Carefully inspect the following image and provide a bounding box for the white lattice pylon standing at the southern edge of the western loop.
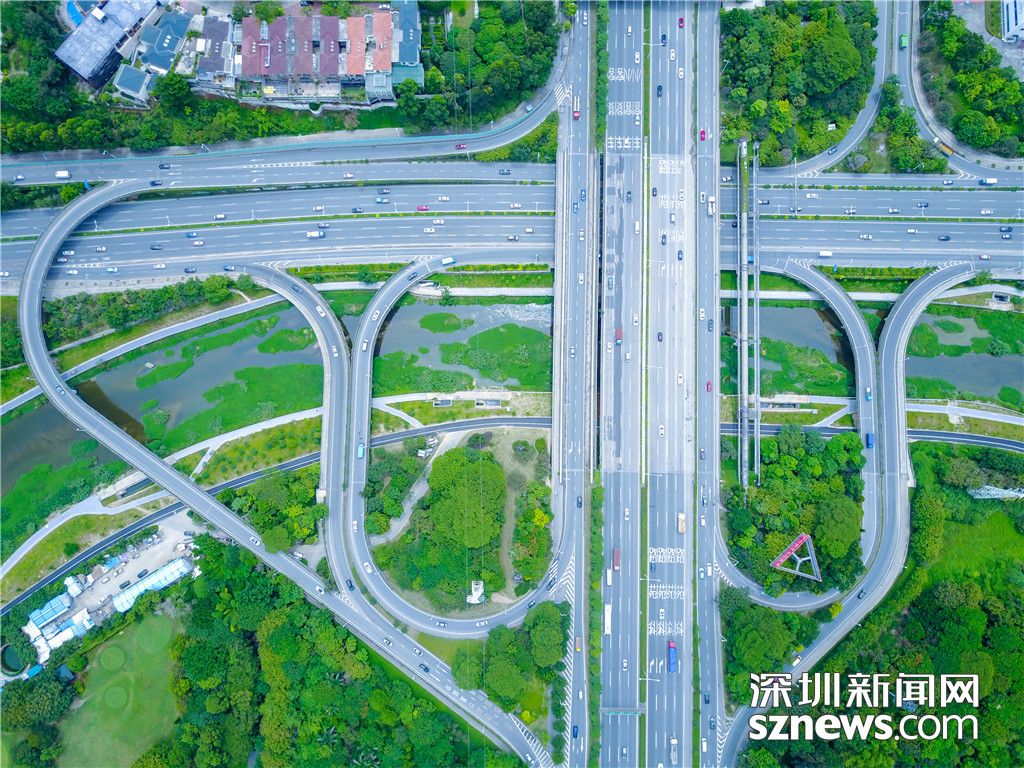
[465,582,484,606]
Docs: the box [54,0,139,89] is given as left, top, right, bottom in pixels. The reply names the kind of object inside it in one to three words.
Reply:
building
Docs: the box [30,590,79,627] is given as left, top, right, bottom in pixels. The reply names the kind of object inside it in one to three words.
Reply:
shed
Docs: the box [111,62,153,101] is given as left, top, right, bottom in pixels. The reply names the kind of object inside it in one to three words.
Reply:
house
